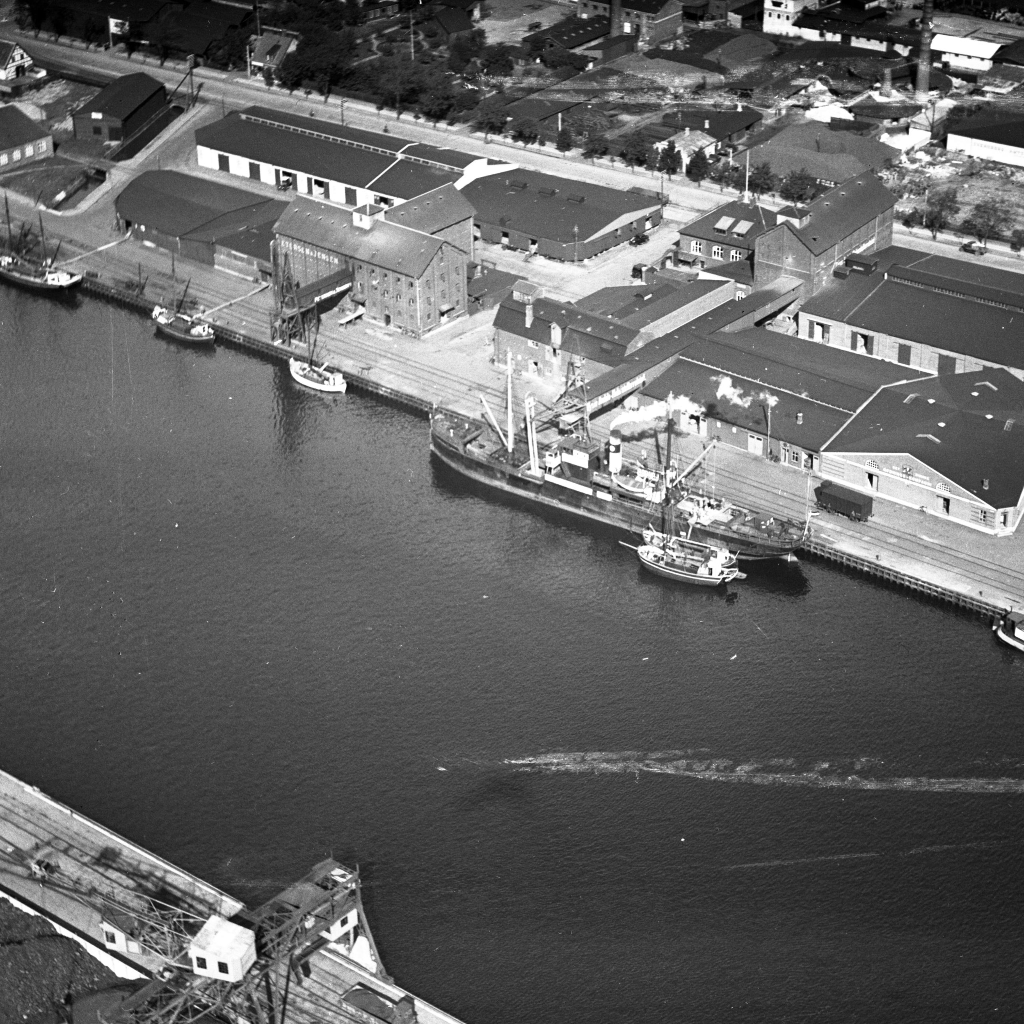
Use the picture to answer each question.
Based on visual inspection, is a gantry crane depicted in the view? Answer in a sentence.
Yes, the picture does show a gantry crane.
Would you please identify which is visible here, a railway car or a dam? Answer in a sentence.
There is a railway car in the scene.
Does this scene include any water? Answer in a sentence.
Yes, water can be seen from above here.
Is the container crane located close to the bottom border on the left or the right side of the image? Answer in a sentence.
The container crane located close to the bottom border sits on the left side.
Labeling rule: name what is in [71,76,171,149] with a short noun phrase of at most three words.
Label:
shed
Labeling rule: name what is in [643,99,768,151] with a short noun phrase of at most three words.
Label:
shed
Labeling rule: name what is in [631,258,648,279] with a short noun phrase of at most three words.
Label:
vehicle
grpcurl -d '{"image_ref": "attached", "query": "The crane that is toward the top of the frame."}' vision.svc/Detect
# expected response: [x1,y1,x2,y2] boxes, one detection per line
[521,351,597,447]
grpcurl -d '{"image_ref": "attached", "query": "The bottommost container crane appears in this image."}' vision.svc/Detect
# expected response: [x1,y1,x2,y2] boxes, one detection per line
[31,844,399,1024]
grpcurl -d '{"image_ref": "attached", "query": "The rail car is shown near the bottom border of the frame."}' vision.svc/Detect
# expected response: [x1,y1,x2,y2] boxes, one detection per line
[345,977,410,1024]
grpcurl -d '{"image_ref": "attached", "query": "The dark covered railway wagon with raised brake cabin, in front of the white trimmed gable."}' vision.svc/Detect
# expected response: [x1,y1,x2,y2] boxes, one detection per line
[820,480,874,521]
